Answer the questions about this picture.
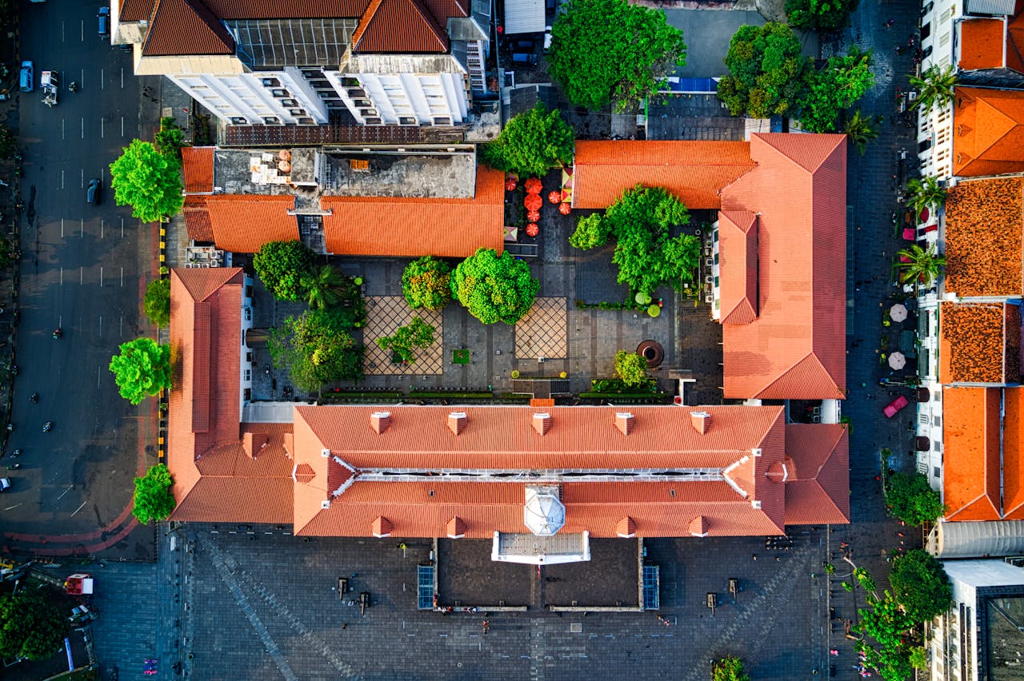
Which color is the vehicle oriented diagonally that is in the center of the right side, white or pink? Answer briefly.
pink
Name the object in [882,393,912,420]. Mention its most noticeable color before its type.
pink vehicle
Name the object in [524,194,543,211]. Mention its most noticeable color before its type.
red umbrella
